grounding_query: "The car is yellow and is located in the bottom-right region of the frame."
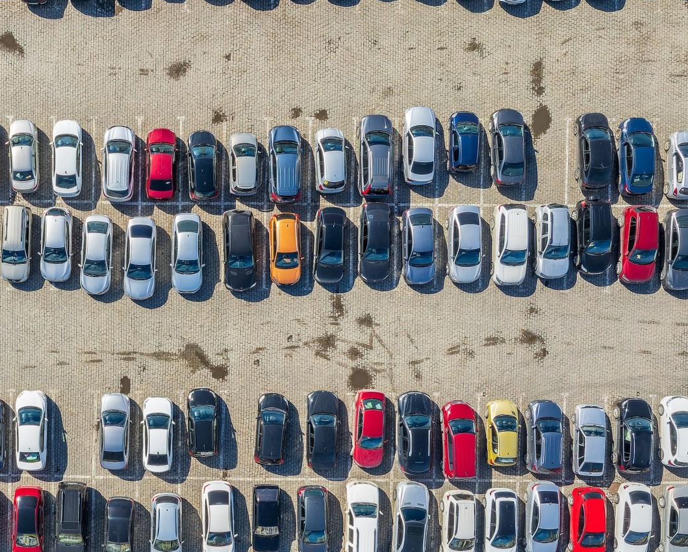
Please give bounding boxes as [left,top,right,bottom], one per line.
[483,399,523,466]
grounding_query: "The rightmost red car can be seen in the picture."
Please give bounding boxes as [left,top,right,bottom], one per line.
[616,205,662,284]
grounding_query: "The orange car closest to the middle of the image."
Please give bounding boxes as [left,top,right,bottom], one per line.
[268,212,305,286]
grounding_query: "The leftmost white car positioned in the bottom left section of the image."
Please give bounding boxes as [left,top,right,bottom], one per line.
[12,390,50,471]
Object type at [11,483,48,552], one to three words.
car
